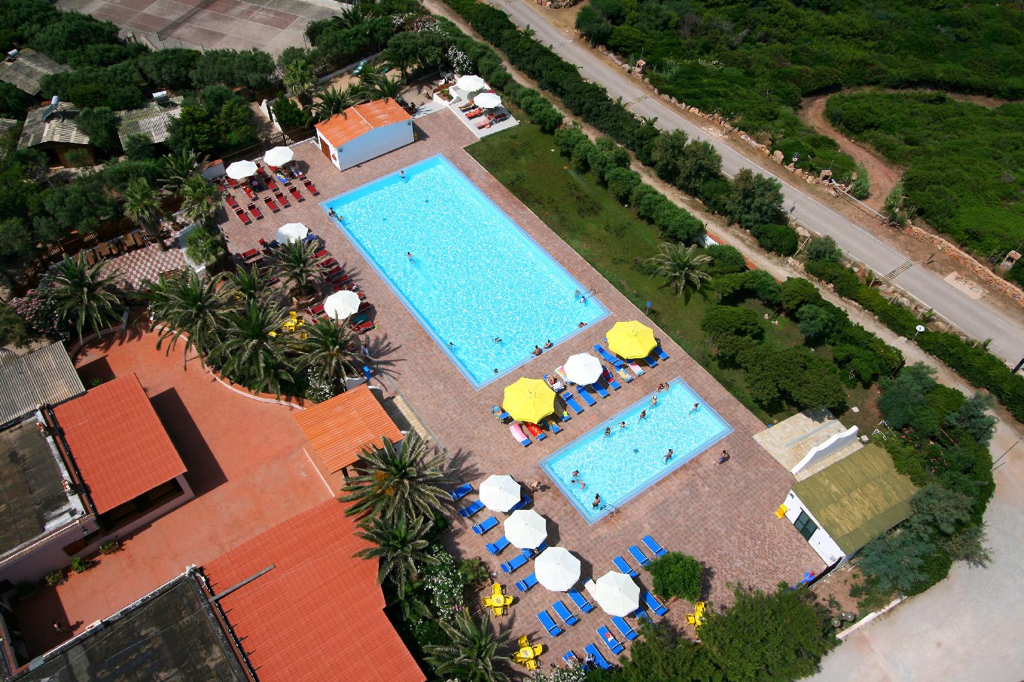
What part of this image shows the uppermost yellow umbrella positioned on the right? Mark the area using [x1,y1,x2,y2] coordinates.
[609,318,655,356]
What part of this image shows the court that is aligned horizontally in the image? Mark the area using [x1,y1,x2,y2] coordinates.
[99,0,297,56]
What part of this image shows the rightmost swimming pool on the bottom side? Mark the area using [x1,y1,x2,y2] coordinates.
[550,386,722,515]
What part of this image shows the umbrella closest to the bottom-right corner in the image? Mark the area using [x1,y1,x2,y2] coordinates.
[594,570,642,617]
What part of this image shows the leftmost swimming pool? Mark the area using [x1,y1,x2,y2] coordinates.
[327,158,602,381]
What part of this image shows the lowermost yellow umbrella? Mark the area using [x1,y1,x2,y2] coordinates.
[503,376,556,420]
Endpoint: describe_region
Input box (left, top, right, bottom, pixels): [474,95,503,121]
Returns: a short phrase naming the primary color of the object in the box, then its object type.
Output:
white umbrella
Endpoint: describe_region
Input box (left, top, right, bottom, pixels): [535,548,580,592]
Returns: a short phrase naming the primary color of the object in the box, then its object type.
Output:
white umbrella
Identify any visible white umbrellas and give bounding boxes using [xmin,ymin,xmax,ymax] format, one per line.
[474,95,503,121]
[456,77,485,94]
[228,160,260,186]
[535,548,580,592]
[503,508,548,549]
[326,294,363,325]
[479,473,523,512]
[594,570,642,617]
[566,354,604,385]
[267,147,298,174]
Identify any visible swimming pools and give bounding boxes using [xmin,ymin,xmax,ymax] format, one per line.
[327,158,602,381]
[550,386,722,515]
